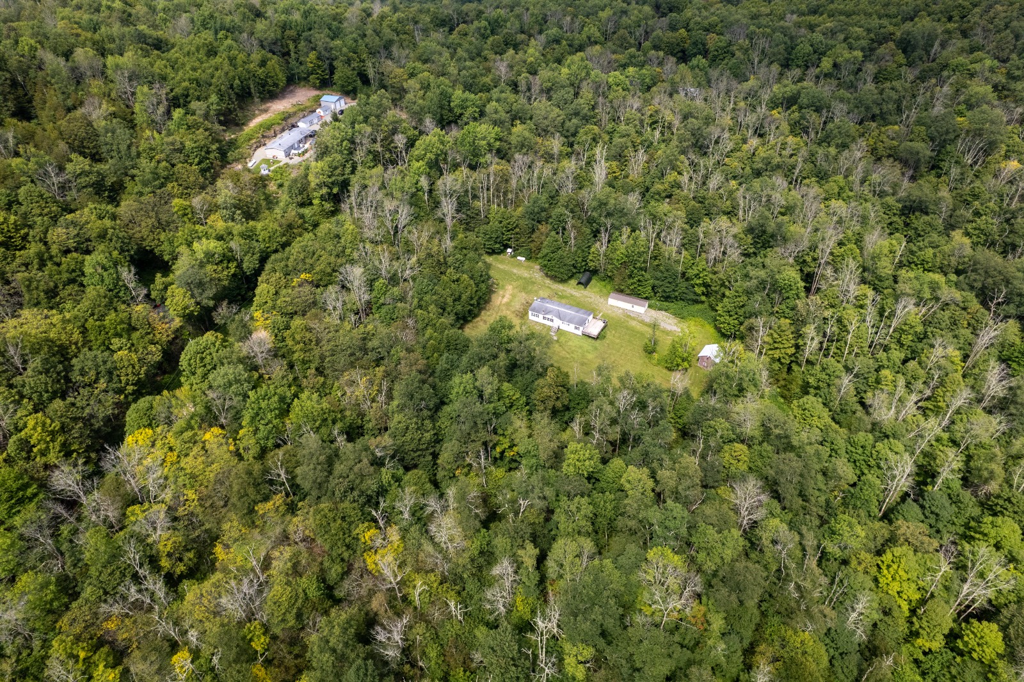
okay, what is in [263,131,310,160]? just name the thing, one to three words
house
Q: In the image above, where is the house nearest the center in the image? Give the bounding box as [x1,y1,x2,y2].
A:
[527,297,595,334]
